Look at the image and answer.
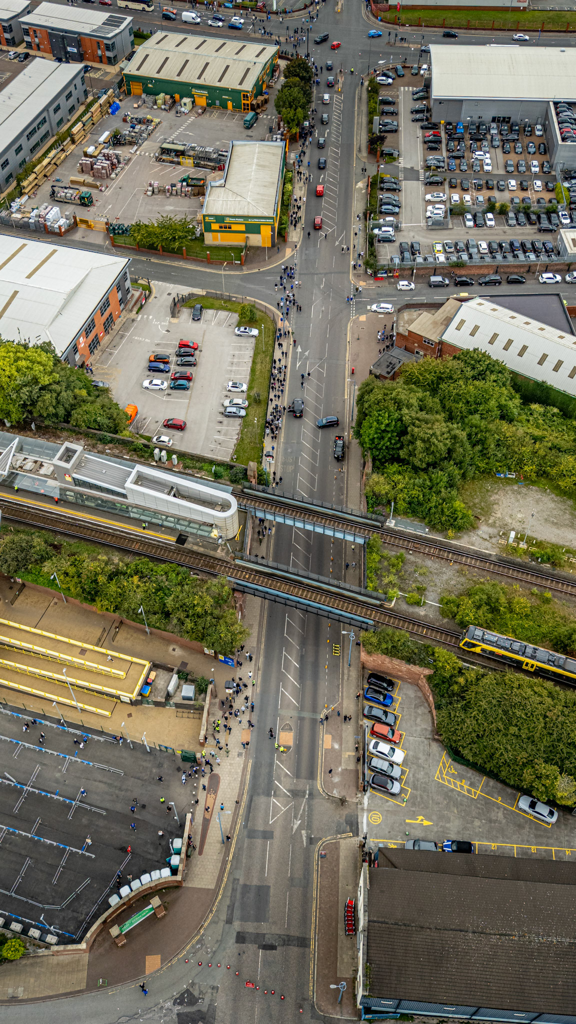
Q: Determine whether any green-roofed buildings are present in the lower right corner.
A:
No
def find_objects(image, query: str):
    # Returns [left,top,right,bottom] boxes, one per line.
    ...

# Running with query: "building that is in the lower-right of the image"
[360,848,576,1024]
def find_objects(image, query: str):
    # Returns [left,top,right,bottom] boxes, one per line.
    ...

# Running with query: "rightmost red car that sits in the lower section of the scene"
[370,724,400,746]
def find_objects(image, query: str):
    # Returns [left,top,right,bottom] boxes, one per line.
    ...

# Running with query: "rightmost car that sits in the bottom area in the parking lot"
[519,799,557,824]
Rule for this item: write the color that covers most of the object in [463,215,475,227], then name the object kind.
white vehicle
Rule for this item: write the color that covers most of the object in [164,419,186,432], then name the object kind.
red vehicle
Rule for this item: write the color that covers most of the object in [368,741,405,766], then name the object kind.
white car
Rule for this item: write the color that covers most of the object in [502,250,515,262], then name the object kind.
gray vehicle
